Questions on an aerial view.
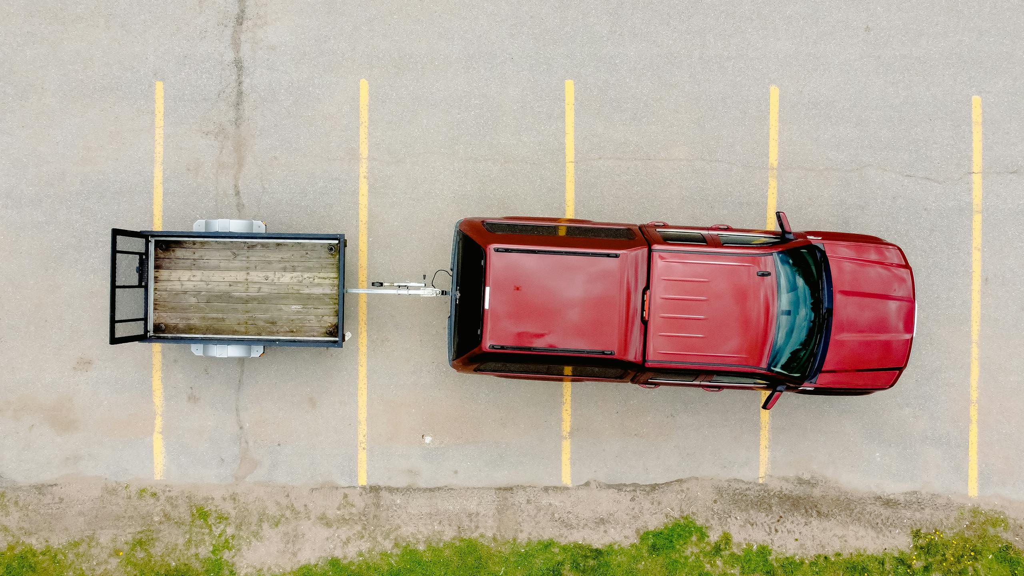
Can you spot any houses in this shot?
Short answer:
No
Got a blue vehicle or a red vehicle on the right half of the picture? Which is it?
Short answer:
red vehicle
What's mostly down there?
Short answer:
paved ground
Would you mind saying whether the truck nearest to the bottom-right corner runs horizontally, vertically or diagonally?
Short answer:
horizontally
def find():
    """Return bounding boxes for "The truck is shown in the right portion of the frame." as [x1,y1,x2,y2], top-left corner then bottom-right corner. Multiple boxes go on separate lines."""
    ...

[440,210,916,412]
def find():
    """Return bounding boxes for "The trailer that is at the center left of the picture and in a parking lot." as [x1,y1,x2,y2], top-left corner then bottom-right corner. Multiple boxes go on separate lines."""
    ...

[107,220,452,360]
